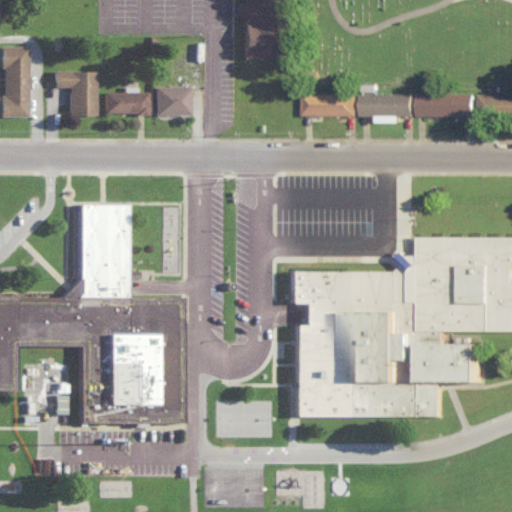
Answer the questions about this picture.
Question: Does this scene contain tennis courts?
No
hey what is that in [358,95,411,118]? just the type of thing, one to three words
house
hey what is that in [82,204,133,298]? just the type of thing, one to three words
building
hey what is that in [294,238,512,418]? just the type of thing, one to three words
building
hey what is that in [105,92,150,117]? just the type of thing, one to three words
house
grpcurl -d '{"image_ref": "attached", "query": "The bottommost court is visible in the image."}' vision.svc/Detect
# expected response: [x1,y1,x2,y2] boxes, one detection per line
[206,462,262,507]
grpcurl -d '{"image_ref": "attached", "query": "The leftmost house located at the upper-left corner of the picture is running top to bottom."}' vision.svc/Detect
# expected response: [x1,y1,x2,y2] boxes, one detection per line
[4,48,31,118]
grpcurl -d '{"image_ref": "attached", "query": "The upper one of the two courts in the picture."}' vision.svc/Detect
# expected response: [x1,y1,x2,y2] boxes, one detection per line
[216,402,271,438]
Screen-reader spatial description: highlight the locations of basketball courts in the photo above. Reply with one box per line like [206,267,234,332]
[206,462,262,507]
[216,402,271,438]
